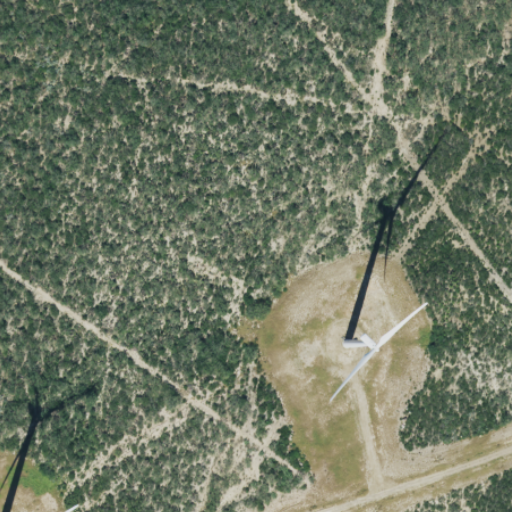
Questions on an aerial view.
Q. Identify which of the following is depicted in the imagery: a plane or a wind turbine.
wind turbine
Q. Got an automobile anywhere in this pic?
No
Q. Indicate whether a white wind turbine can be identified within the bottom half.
Yes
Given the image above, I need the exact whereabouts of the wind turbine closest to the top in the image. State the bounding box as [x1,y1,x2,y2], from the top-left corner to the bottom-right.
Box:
[330,303,427,400]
